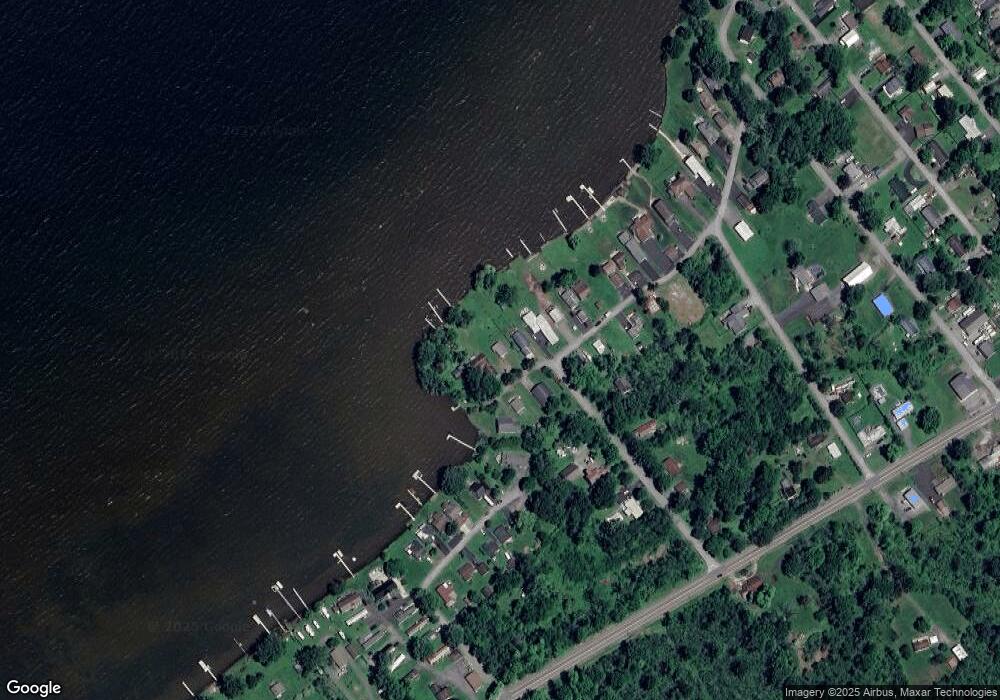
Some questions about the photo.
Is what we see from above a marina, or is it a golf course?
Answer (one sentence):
The area seen from above is a marina.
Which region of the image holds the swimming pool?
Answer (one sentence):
You can find the swimming pool in the right area of the picture.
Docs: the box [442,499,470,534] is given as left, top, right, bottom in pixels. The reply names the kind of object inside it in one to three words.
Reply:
house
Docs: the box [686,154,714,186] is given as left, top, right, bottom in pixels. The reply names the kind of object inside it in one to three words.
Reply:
house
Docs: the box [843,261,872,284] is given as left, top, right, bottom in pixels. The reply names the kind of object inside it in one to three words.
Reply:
barn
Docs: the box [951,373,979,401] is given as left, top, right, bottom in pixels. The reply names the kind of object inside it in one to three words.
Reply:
building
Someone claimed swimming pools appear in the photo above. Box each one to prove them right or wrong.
[873,293,895,316]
